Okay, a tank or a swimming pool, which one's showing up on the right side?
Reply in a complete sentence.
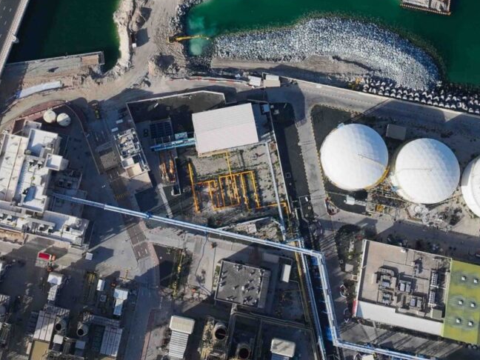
The one visible on the right side is a tank.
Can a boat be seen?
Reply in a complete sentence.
No, there is no boat in the image.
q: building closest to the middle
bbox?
[192,103,258,157]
